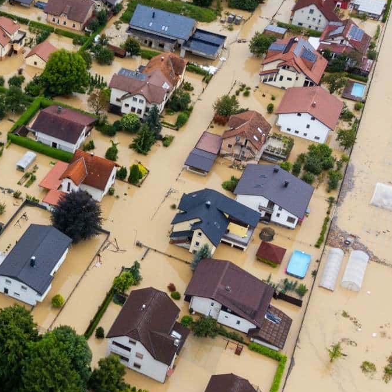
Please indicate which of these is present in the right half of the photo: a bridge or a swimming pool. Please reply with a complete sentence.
You can see a swimming pool in the right half of the photo.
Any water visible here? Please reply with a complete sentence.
Yes, there's water in this view.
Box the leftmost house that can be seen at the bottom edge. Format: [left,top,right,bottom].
[103,288,207,383]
